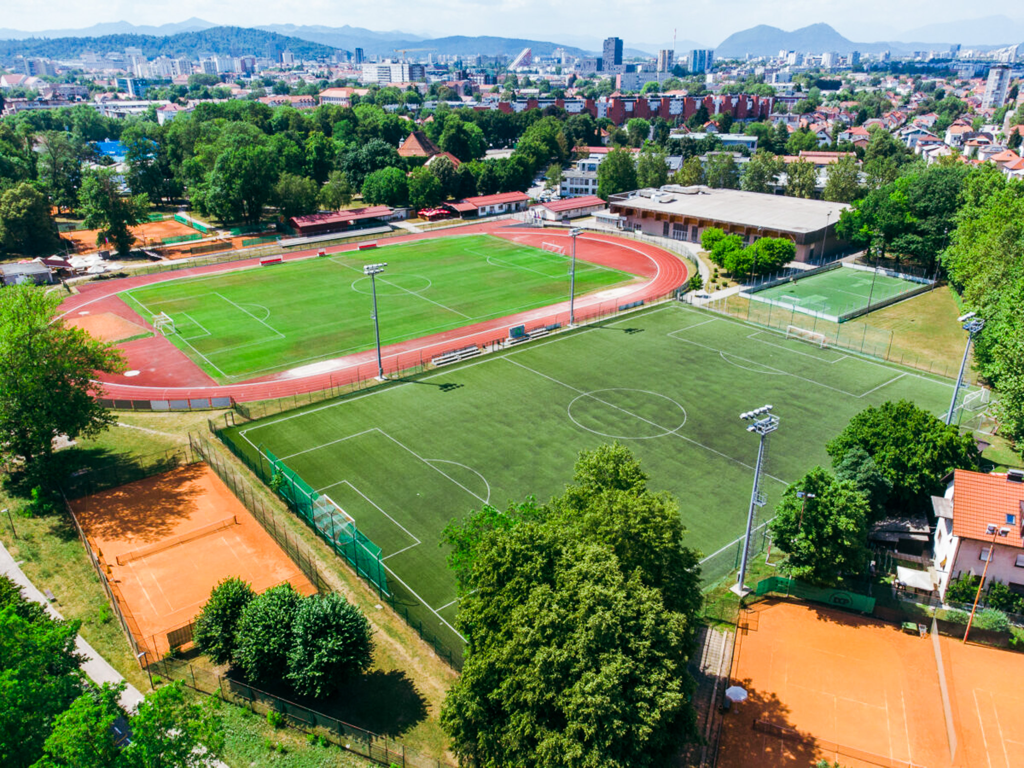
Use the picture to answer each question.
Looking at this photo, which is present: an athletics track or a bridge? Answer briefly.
athletics track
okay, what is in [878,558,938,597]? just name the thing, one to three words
gazebo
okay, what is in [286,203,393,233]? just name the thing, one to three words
shed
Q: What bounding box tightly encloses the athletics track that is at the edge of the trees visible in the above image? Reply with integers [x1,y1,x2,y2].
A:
[4,228,686,413]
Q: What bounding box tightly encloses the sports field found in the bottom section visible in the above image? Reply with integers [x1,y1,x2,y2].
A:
[217,300,1005,659]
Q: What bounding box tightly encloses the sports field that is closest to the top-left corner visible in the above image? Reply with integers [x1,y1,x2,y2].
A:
[104,233,647,388]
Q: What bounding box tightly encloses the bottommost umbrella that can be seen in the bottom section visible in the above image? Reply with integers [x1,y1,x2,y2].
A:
[725,683,753,714]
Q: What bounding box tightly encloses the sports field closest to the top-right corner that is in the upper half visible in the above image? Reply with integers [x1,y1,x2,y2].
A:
[748,266,925,317]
